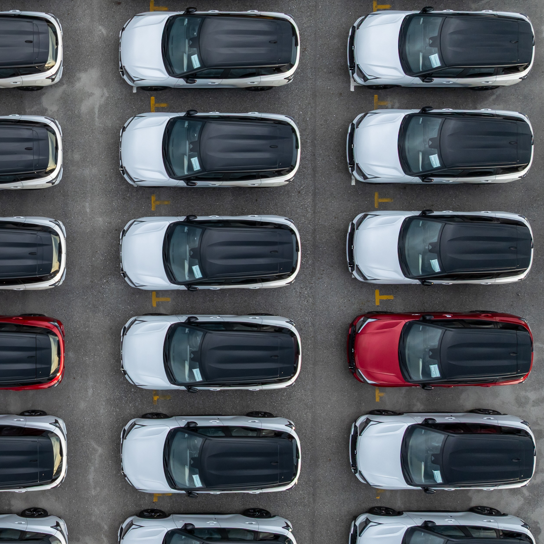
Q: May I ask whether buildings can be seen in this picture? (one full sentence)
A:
No, there appears to be no building in this shot.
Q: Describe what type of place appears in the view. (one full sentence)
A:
The area seen from above is a parking lot.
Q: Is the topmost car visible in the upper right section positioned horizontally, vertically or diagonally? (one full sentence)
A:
The topmost car visible in the upper right section is oriented horizontally.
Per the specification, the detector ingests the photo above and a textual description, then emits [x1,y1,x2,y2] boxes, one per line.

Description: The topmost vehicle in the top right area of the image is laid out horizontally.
[347,2,536,92]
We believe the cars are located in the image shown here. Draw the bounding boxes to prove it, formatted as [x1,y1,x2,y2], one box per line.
[118,3,299,92]
[0,508,68,544]
[0,11,62,92]
[347,2,536,92]
[349,408,537,497]
[118,510,297,544]
[119,107,301,190]
[120,313,302,396]
[345,205,534,288]
[345,102,534,185]
[0,216,66,291]
[119,211,301,294]
[349,505,537,544]
[0,411,67,491]
[120,412,302,501]
[0,314,65,390]
[0,116,63,191]
[345,311,534,394]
